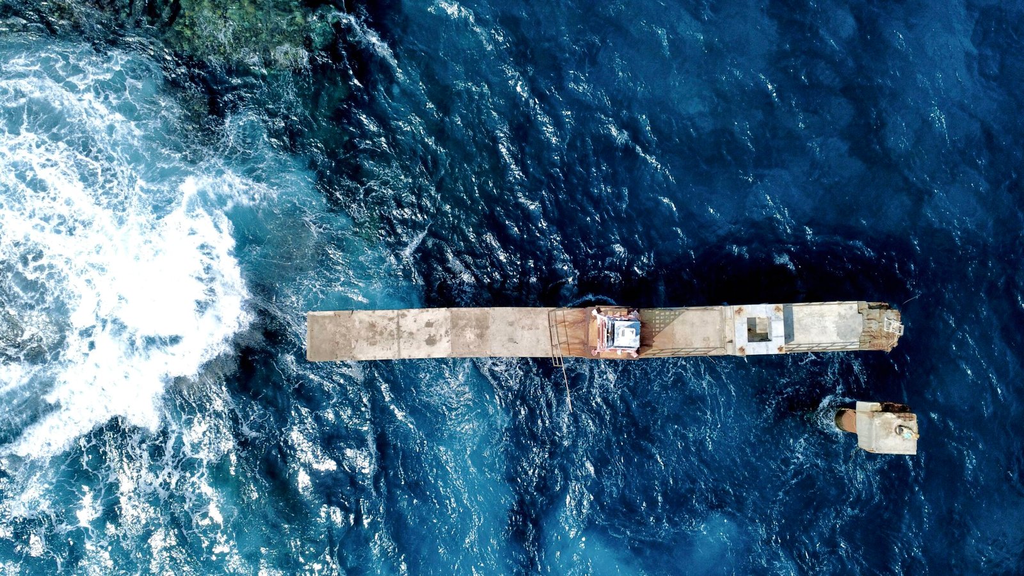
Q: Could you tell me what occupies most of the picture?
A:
water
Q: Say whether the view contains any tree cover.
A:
No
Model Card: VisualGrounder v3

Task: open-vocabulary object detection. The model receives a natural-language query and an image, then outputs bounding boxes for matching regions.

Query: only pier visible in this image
[308,301,901,361]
